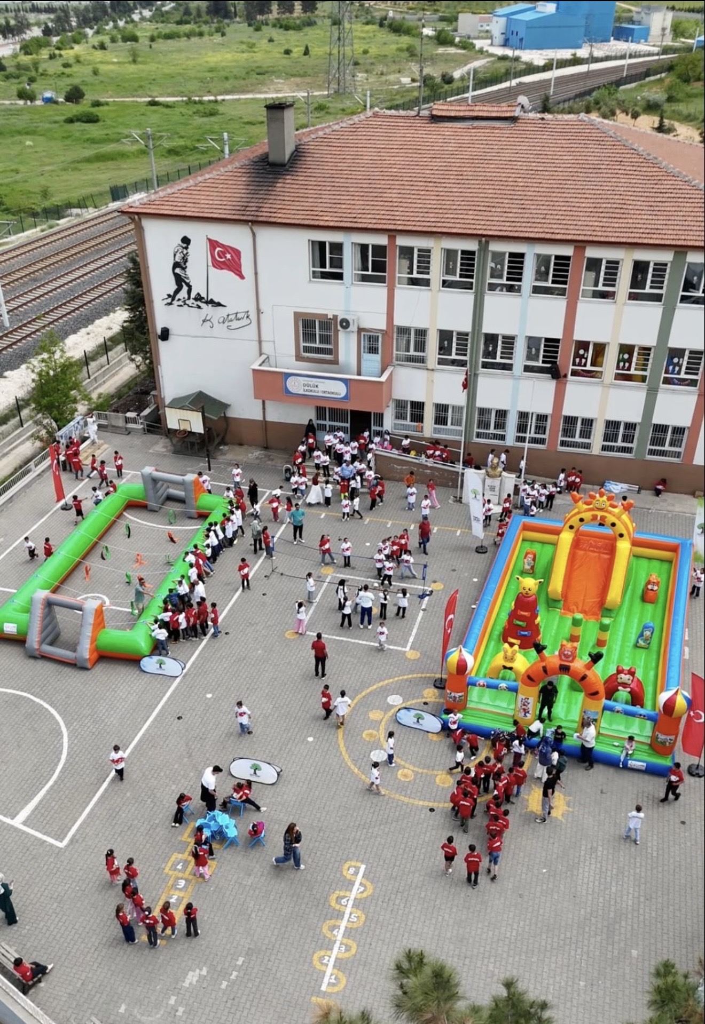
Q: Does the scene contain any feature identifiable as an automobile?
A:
No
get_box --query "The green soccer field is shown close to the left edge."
[0,476,236,666]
